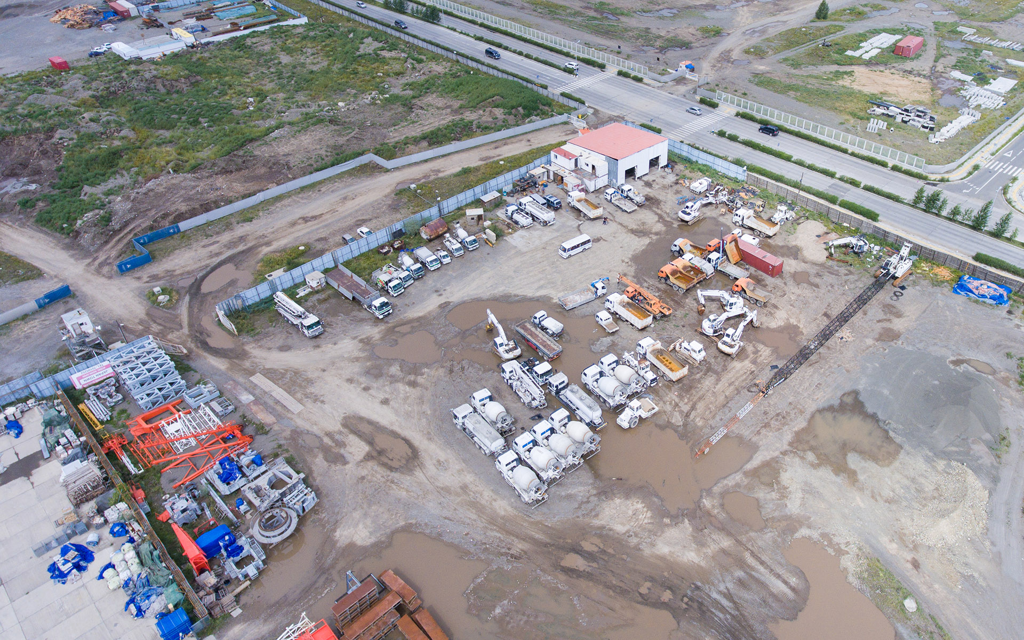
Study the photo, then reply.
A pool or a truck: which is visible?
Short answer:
truck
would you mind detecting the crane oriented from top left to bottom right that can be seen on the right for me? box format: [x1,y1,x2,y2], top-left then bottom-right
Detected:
[621,270,676,318]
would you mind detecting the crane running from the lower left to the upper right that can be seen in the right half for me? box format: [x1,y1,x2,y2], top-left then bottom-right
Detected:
[694,237,920,459]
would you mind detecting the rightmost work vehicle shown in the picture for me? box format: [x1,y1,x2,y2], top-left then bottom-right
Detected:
[826,232,880,265]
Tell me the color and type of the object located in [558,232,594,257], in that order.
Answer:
white vehicle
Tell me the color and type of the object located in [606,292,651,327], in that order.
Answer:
white truck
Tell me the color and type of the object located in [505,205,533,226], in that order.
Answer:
white truck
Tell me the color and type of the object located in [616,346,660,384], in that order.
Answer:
white work vehicle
